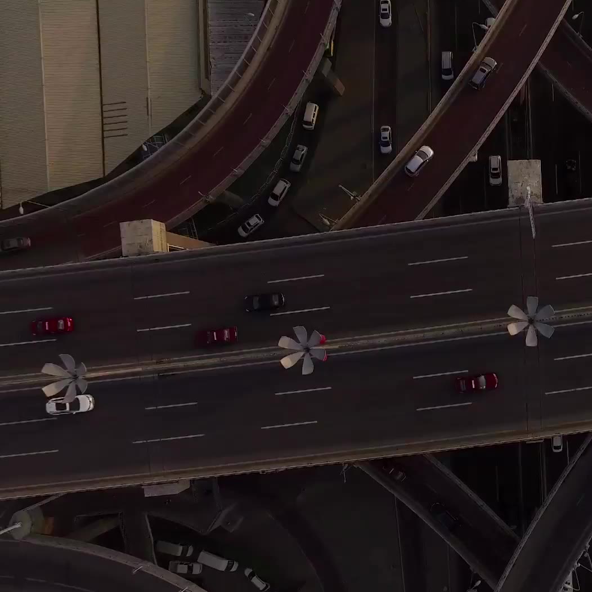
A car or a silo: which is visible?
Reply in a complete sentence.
The image shows a car.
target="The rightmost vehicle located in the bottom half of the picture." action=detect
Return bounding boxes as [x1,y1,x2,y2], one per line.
[550,434,565,453]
